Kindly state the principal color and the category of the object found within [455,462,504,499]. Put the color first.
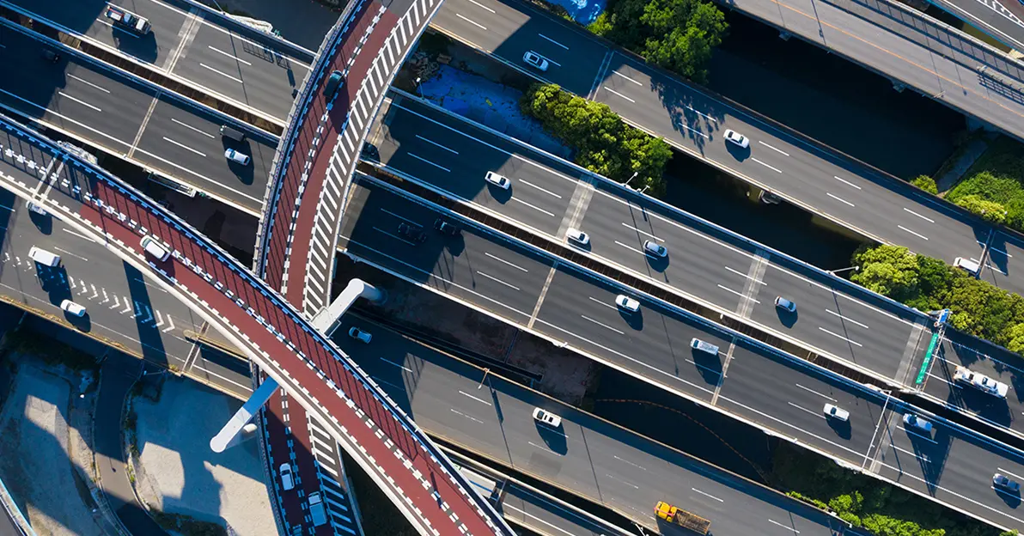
white truck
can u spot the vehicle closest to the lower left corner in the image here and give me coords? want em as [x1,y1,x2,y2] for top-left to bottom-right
[60,299,87,317]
